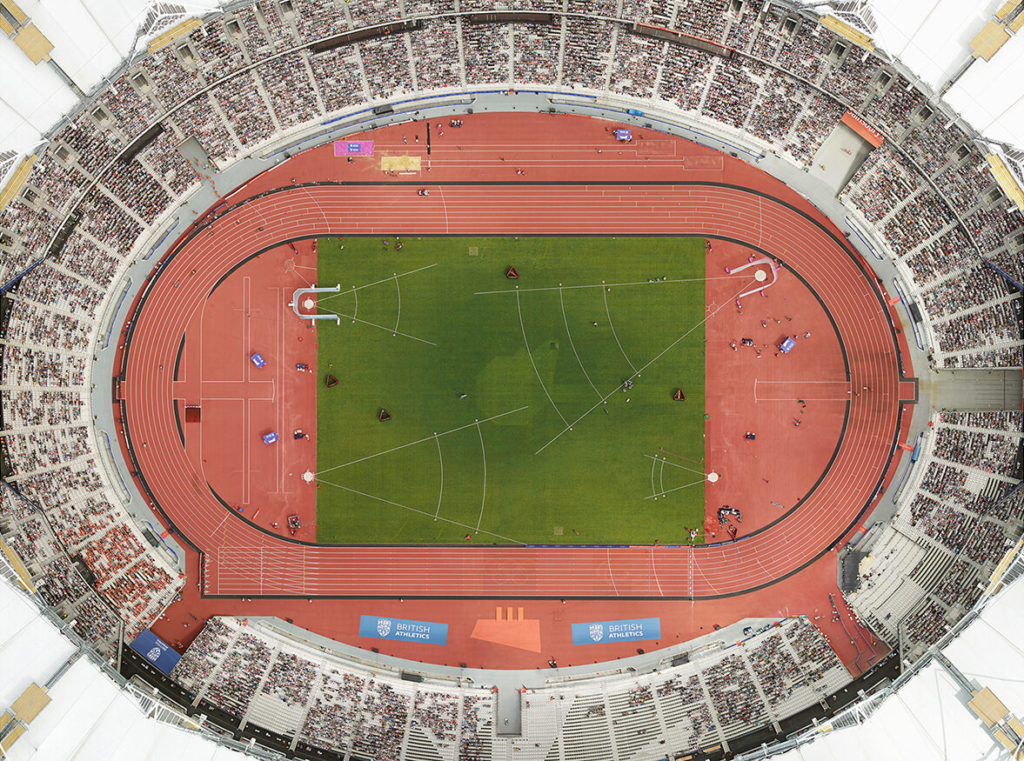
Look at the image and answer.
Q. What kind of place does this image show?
sports ground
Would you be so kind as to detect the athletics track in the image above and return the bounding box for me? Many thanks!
[110,111,921,670]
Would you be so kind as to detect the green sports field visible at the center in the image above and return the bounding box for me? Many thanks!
[315,238,755,545]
